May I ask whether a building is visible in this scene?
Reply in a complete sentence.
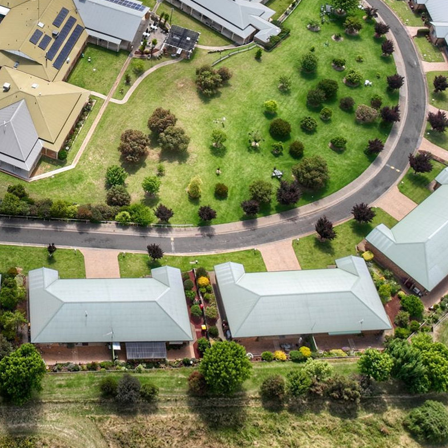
Yes, the photo shows a building.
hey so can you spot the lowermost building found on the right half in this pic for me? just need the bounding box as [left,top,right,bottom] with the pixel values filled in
[210,255,392,342]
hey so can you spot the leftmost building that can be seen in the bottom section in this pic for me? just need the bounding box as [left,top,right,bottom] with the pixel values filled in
[27,265,193,363]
